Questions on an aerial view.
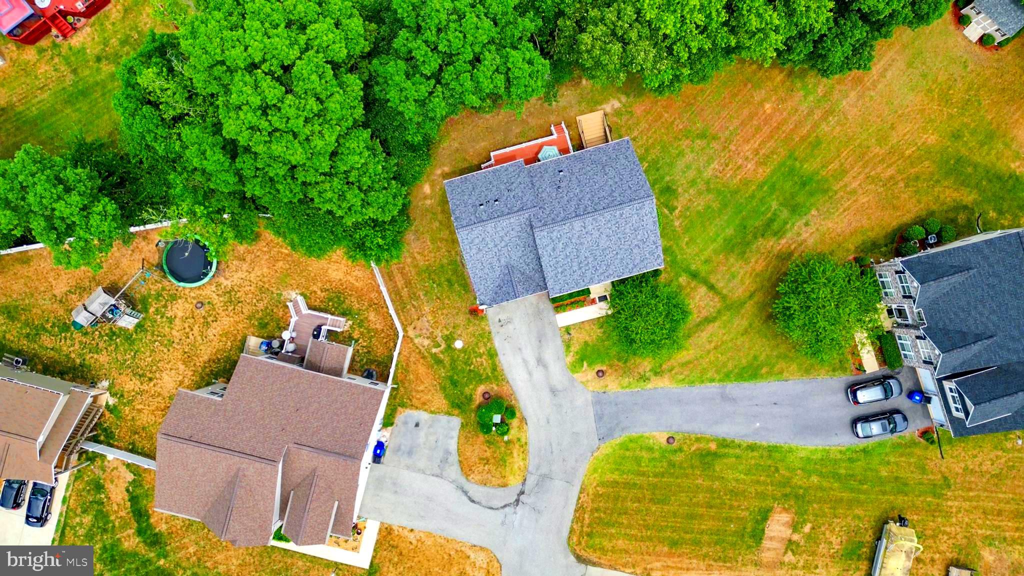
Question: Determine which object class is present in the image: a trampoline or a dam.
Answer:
trampoline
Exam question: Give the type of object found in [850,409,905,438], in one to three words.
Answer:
car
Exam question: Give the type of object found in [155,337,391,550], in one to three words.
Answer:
house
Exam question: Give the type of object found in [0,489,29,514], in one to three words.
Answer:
car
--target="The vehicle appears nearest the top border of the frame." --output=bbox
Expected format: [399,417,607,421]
[846,375,899,405]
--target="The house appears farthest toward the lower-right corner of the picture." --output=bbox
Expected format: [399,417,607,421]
[875,222,1024,440]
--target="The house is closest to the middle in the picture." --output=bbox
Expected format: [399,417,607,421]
[443,136,665,310]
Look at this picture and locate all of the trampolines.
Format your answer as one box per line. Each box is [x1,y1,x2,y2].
[158,233,219,289]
